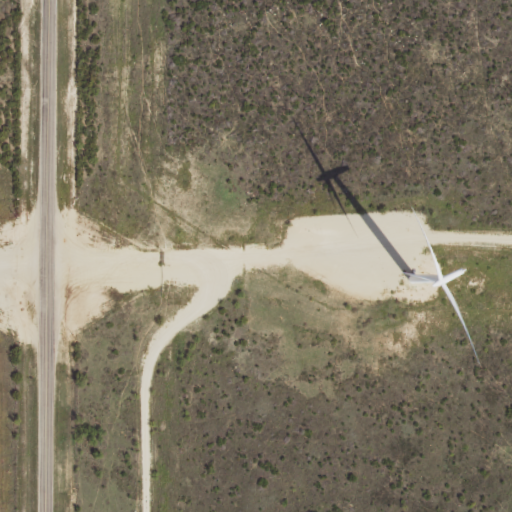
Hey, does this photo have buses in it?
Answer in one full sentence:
No, the photo shows no bus.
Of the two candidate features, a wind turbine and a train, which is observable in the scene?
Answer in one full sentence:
Looking from above, you can make out a wind turbine.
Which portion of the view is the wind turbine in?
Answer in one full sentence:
The wind turbine appears toward the right of the photo.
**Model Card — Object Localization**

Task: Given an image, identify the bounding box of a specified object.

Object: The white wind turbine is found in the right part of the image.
[404,212,483,364]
